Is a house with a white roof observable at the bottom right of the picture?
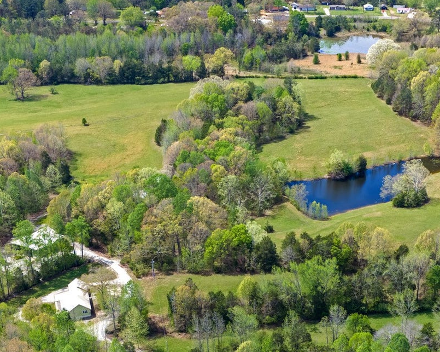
No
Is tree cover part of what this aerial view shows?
Yes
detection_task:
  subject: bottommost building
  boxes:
[55,279,91,319]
